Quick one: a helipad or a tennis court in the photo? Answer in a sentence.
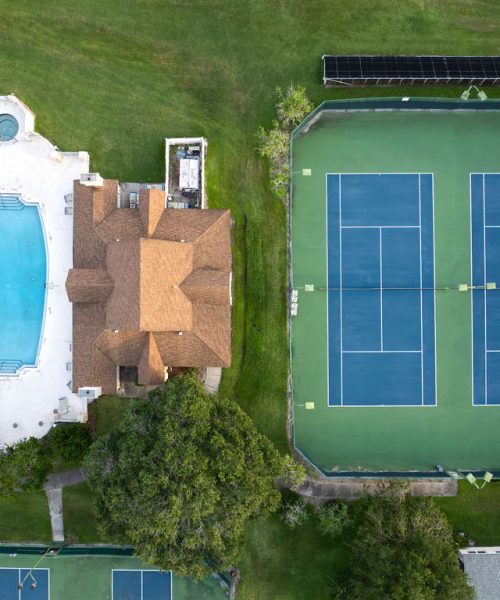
Looking from above, you can make out a tennis court.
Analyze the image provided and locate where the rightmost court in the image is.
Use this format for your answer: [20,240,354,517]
[468,173,500,405]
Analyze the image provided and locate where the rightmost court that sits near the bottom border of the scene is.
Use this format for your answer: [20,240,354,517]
[112,570,174,600]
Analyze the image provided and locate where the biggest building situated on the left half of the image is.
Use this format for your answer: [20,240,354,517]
[67,173,232,398]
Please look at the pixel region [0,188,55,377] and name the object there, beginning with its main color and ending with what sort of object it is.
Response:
blue swimming pool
